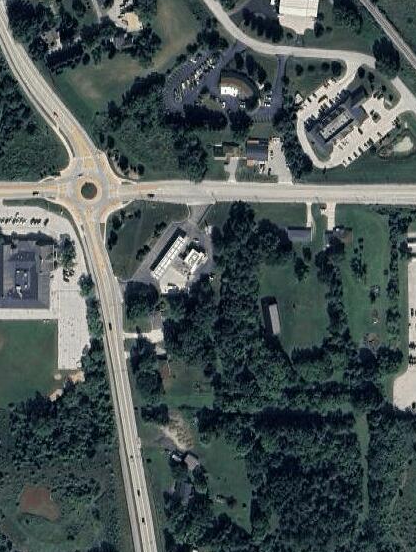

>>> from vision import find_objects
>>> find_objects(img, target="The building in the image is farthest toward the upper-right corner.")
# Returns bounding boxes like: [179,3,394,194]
[278,0,318,18]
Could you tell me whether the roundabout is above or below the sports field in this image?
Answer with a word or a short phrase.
above it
